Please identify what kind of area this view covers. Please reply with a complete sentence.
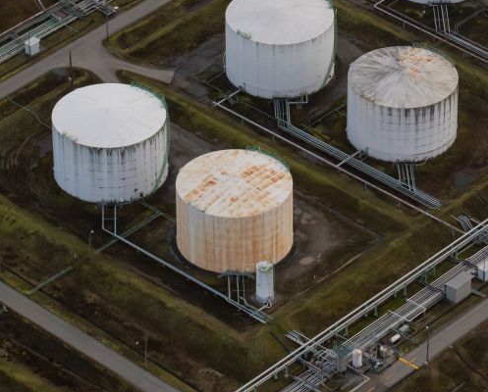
The area seen from above is an industrial area.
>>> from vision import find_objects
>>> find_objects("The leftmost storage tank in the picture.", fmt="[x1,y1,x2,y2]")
[52,80,174,203]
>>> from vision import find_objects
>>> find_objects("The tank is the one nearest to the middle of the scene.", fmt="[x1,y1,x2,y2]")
[175,146,293,275]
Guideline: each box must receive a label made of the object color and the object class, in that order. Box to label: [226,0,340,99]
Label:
white storage tank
